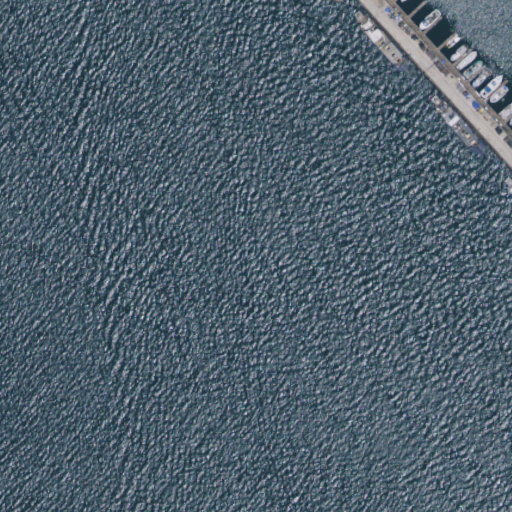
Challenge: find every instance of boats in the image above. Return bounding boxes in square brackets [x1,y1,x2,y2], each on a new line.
[446,34,462,50]
[419,8,440,28]
[356,12,404,65]
[449,44,468,60]
[490,86,510,105]
[498,98,512,116]
[465,58,484,76]
[479,76,502,97]
[456,48,480,69]
[472,68,492,88]
[432,96,480,148]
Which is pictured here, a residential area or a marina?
marina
